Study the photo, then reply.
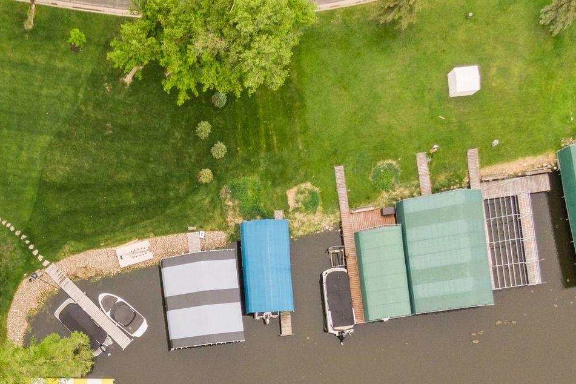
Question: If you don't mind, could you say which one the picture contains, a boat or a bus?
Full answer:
The one in the frame is a boat.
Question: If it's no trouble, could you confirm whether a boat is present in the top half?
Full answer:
No, looking in the top half, there is no boat.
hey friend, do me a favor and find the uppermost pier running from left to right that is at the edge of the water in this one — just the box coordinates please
[479,173,551,199]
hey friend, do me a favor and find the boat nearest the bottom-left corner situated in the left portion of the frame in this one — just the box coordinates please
[53,299,112,361]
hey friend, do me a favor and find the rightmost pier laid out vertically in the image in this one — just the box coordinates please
[514,193,542,286]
